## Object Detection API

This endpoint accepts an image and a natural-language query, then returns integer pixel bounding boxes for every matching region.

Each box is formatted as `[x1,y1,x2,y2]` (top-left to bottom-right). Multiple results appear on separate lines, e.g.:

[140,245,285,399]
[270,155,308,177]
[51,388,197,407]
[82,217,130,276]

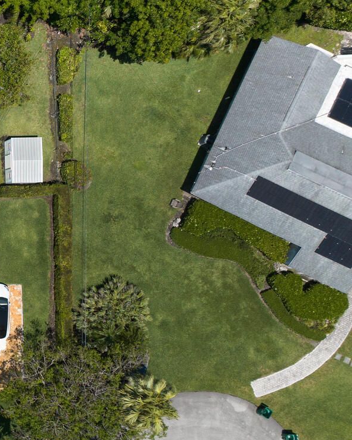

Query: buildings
[187,36,352,277]
[4,137,46,184]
